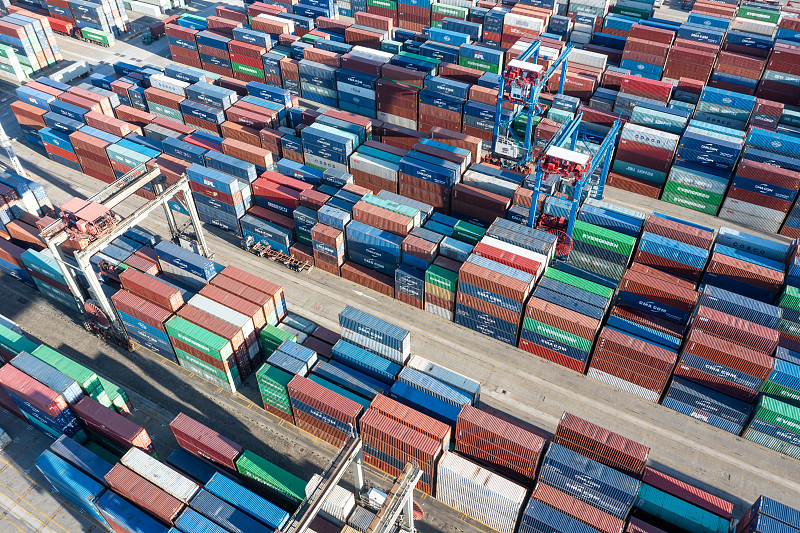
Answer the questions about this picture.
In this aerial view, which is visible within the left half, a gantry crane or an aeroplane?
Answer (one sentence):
What appears within the left half is a gantry crane.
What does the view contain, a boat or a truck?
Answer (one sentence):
There is a truck in the scene.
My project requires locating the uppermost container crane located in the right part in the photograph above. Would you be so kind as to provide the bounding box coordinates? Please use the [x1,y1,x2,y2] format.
[489,27,579,167]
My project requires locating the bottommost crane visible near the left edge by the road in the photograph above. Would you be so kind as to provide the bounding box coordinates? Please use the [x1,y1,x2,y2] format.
[26,154,223,349]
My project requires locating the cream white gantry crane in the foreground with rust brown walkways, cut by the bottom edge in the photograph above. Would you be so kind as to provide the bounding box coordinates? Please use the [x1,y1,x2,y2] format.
[269,427,430,533]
